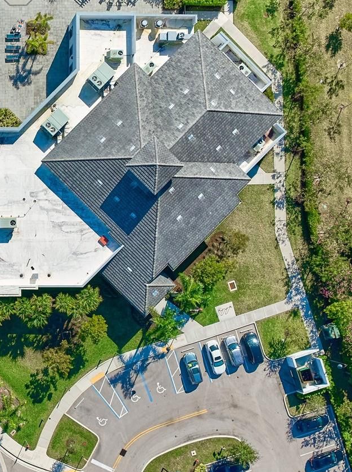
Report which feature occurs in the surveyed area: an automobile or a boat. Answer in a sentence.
The one in the frame is an automobile.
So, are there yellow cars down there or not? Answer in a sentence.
No, I find no yellow car anywhere in the image.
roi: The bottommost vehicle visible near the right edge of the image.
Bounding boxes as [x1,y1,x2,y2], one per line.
[306,449,343,472]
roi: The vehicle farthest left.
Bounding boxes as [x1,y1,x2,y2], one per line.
[182,350,201,385]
